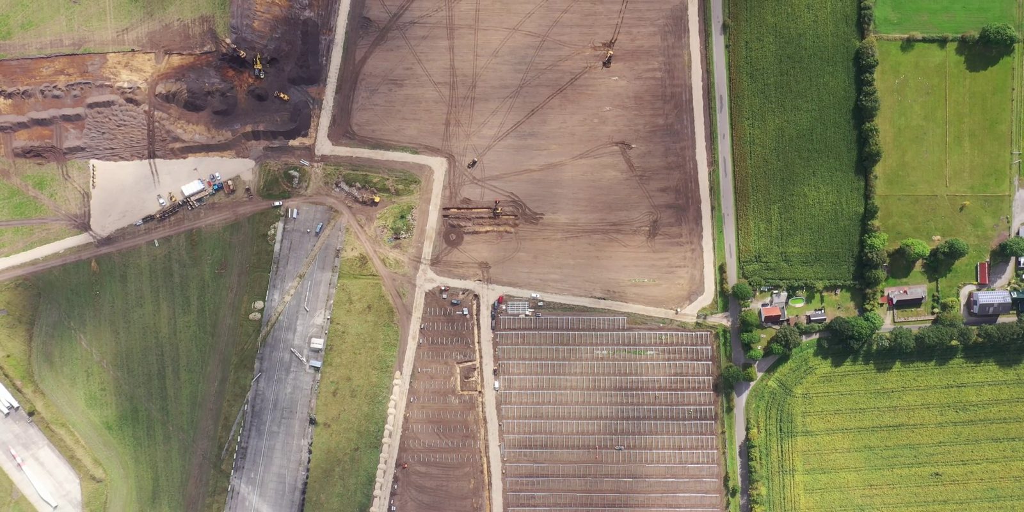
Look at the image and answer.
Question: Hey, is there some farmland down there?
Yes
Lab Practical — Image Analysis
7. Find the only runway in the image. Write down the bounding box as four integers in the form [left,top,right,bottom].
[223,204,349,512]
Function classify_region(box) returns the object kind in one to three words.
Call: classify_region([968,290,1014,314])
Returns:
house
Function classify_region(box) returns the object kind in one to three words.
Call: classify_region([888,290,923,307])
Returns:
house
